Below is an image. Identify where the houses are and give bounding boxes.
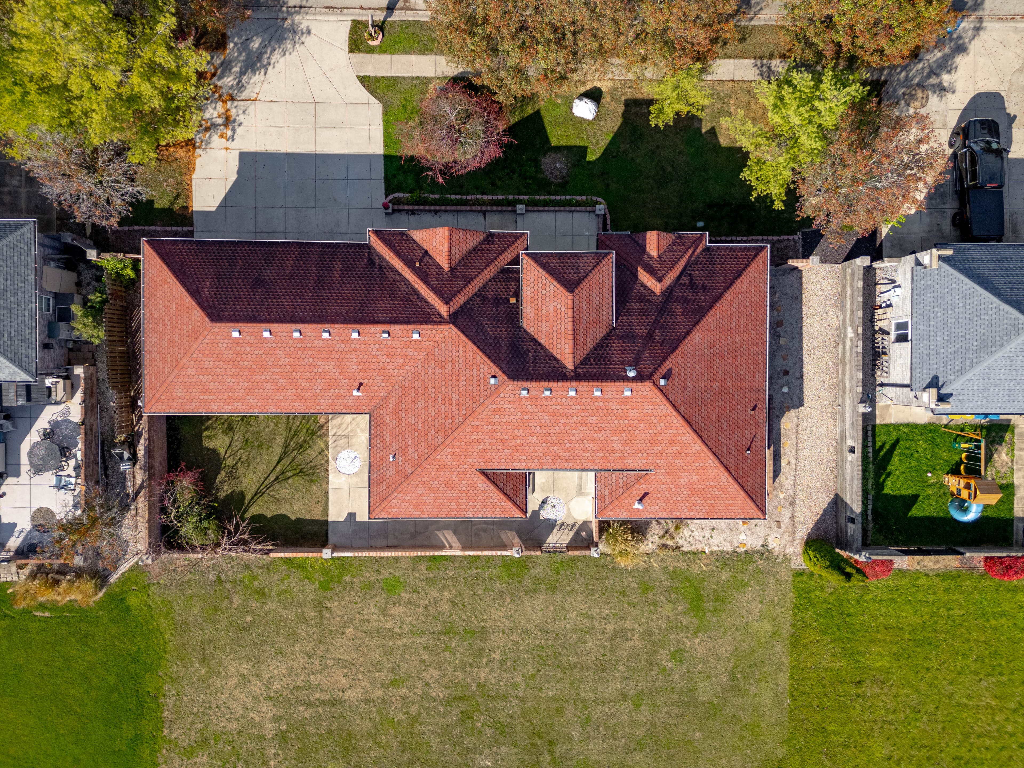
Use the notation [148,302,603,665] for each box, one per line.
[884,241,1024,417]
[140,225,770,521]
[0,217,68,384]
